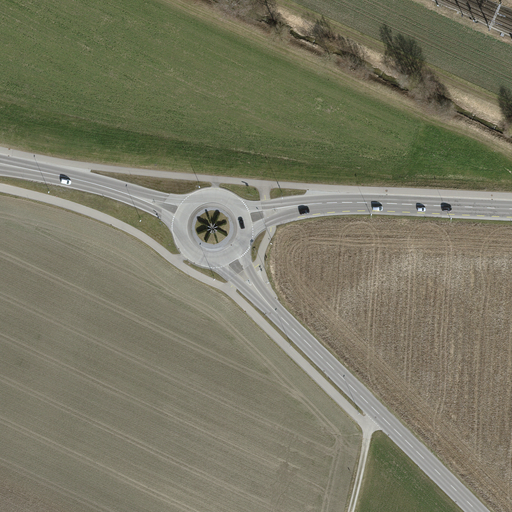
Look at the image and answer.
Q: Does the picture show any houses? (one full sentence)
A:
No, there is no house in the image.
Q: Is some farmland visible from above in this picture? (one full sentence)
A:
Yes, farmland shows up in the scene.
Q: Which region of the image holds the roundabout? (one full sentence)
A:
The roundabout sits in the center section of the image.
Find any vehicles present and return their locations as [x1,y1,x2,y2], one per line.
[299,208,310,214]
[60,179,72,185]
[239,218,245,230]
[442,207,453,212]
[416,207,426,212]
[372,206,383,211]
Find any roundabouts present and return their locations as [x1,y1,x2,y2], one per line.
[161,187,267,272]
